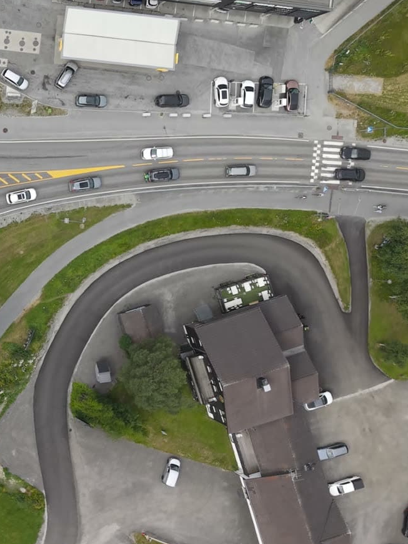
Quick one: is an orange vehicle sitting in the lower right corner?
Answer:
No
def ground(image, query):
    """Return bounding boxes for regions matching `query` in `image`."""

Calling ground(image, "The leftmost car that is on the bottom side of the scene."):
[163,456,182,487]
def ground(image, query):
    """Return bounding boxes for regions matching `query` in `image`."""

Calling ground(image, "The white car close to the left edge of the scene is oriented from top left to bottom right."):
[0,67,30,91]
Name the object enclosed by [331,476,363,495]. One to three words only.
vehicle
